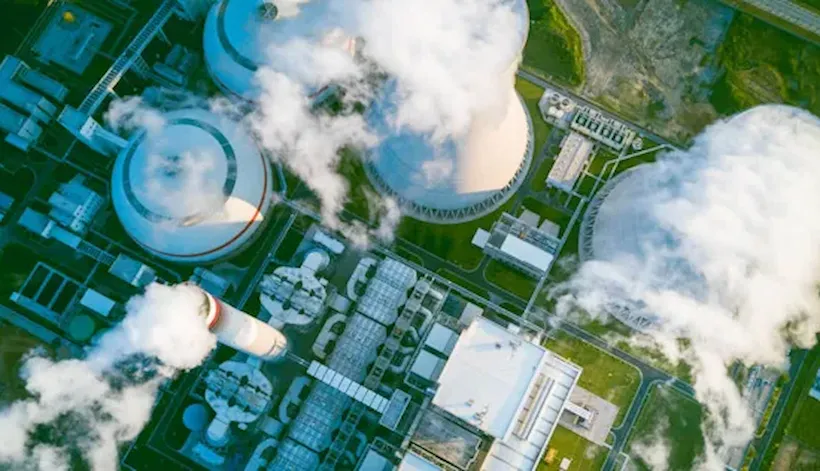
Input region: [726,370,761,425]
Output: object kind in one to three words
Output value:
house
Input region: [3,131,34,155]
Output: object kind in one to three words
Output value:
shed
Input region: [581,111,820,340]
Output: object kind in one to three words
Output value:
cooling tower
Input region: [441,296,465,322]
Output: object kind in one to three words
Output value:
building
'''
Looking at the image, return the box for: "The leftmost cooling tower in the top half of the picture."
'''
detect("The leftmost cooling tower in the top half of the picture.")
[360,0,535,224]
